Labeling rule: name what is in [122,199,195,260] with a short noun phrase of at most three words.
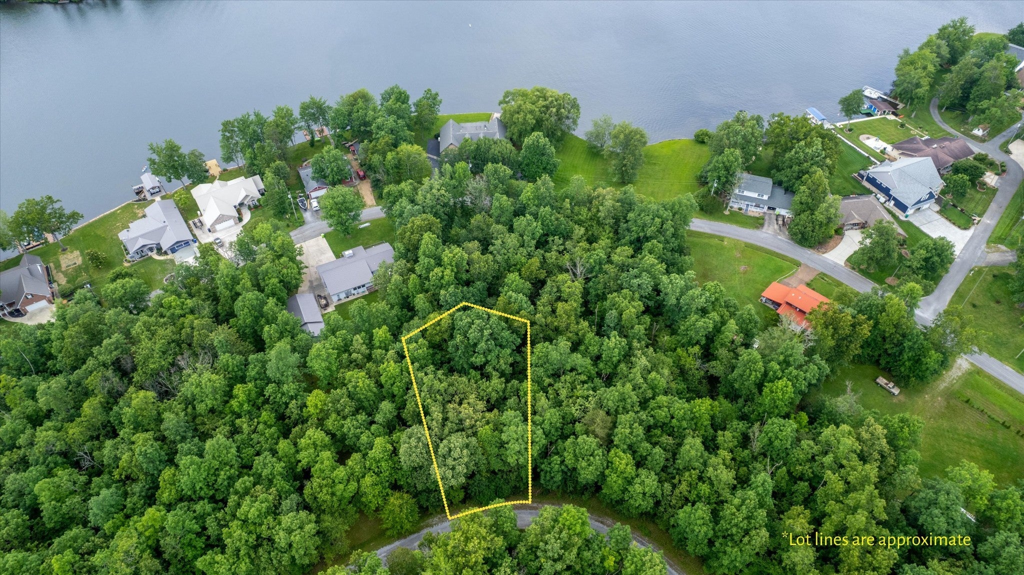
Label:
house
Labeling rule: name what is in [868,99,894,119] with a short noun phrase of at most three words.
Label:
building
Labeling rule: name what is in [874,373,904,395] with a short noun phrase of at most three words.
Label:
truck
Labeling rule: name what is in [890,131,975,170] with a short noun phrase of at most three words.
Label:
house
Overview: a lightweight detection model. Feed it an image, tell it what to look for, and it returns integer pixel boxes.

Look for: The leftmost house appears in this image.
[0,254,54,316]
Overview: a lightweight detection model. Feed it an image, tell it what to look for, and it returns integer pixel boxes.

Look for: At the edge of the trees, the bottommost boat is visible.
[312,287,332,308]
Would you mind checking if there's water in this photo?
Yes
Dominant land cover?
trees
